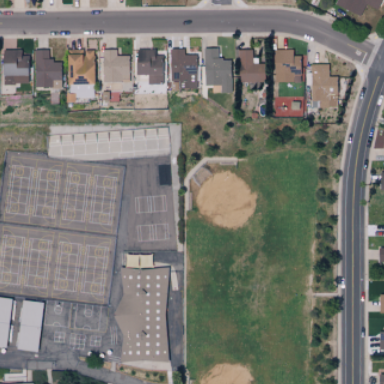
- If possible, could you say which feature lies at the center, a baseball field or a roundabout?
baseball field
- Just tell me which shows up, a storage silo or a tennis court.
tennis court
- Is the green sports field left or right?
right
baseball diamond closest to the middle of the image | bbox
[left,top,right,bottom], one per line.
[188,160,258,228]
